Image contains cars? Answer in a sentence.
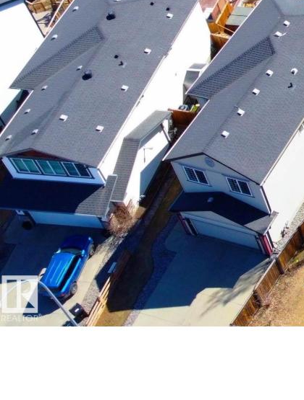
Yes, you can see a car in this photo.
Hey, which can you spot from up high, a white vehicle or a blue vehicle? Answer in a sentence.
The one in the frame is a blue vehicle.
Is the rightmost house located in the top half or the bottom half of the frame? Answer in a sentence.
Seen from above, the rightmost house lies in the top half of the view.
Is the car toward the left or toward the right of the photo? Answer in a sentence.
You can find the car on the left side of the picture.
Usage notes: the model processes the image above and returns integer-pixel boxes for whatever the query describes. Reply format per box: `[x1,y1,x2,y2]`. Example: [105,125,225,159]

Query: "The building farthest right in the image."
[160,0,304,260]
